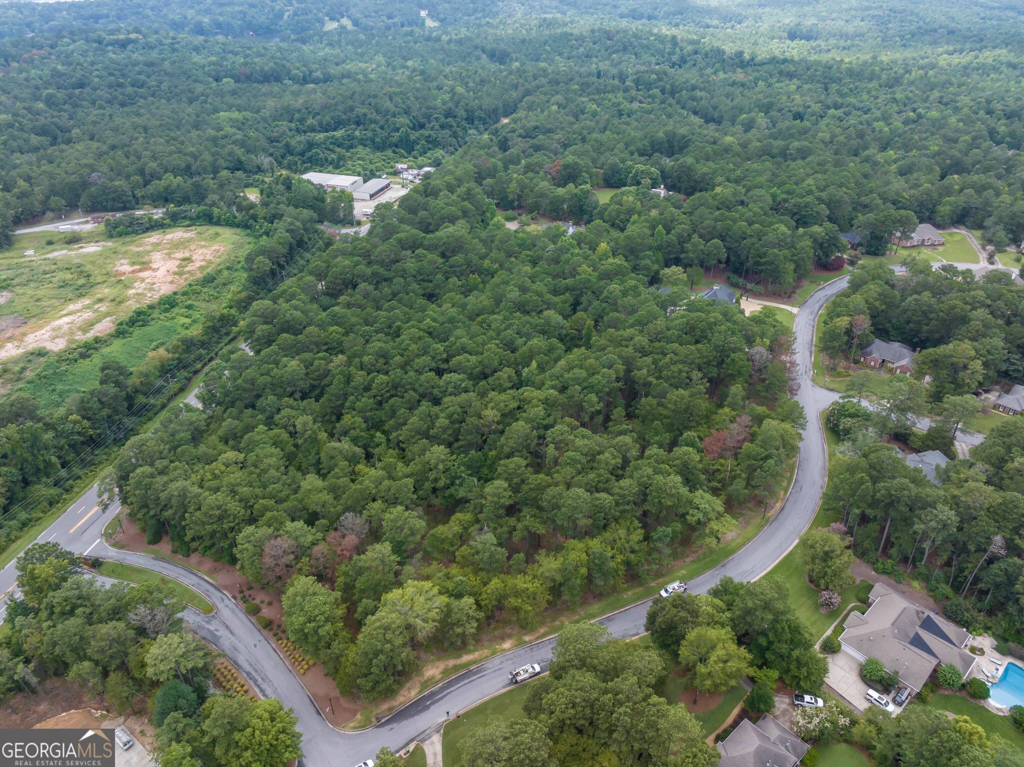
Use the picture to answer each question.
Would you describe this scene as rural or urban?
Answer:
rural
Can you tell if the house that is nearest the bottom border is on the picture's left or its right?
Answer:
right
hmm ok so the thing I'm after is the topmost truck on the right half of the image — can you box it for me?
[658,577,689,598]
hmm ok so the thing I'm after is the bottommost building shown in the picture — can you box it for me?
[712,713,811,767]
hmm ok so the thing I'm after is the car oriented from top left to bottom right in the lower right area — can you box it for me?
[862,686,897,714]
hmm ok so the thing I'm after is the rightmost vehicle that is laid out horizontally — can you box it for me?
[792,692,825,708]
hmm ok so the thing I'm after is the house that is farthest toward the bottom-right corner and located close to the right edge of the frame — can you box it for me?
[837,582,977,697]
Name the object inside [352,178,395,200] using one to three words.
building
